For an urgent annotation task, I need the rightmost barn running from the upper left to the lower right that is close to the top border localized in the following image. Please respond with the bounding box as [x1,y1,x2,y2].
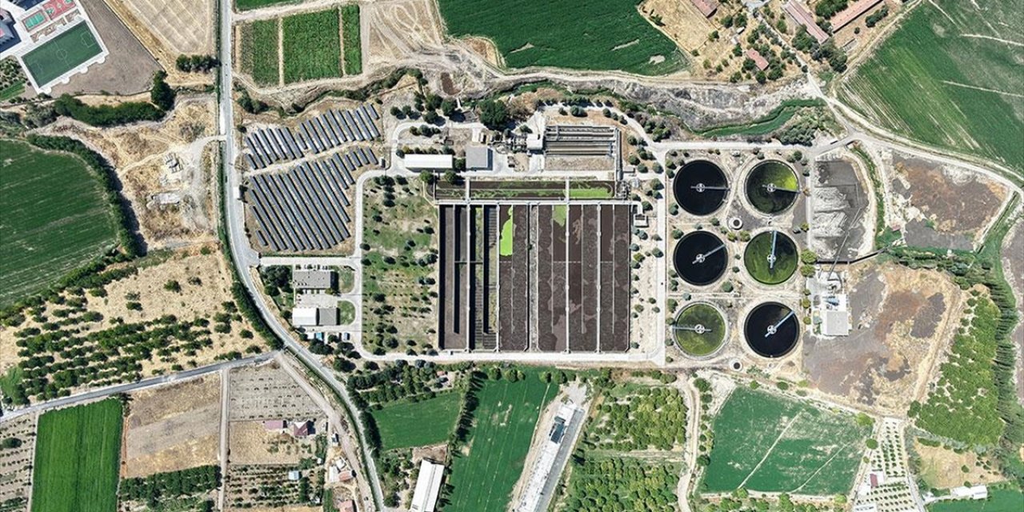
[784,1,828,43]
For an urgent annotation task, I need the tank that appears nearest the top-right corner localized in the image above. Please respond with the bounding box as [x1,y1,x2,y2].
[745,160,802,215]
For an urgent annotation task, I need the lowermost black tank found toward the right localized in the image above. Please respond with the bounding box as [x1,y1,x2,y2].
[744,302,800,359]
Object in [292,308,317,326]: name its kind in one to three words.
building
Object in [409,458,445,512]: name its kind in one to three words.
shed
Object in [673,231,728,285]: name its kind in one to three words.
storage tank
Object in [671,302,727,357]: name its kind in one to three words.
storage tank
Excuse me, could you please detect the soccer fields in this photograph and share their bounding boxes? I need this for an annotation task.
[22,20,102,87]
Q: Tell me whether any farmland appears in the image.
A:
Yes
